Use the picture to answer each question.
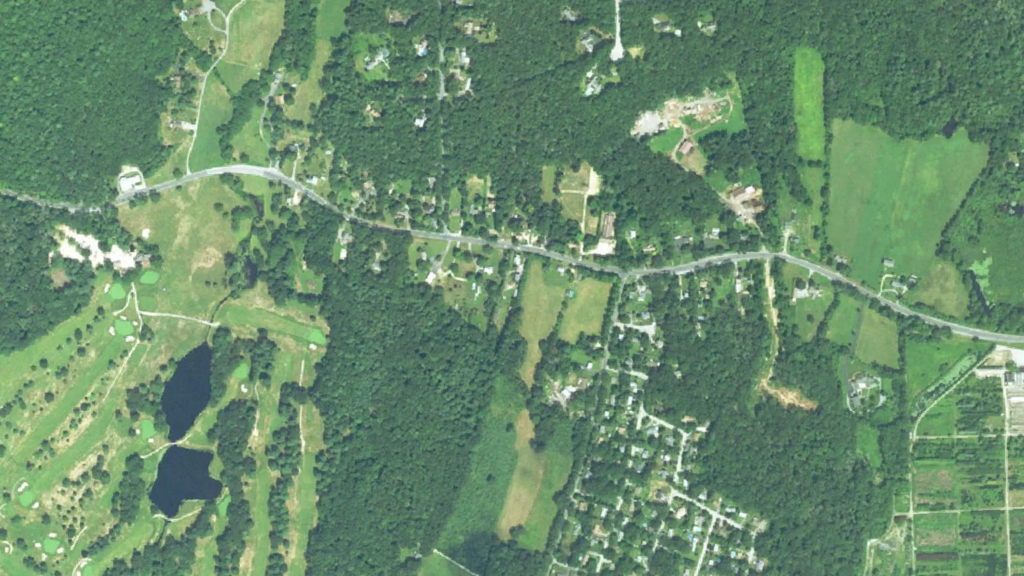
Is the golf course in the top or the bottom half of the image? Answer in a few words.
bottom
